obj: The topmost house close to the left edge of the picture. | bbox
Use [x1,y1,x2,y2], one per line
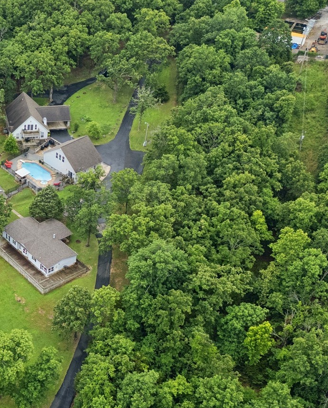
[4,92,72,147]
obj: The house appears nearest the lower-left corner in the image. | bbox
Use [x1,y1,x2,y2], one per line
[4,217,77,276]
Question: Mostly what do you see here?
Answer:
trees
